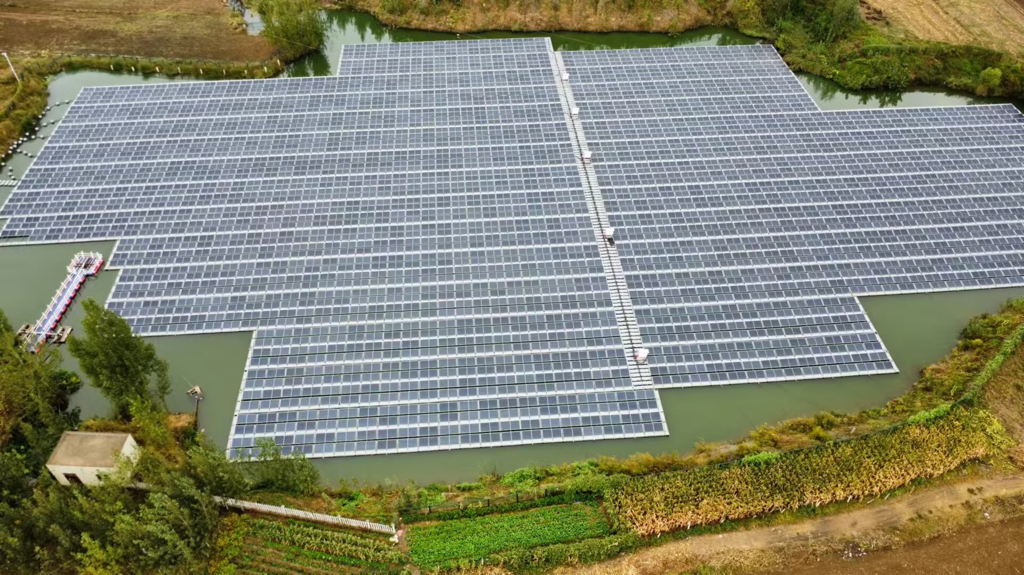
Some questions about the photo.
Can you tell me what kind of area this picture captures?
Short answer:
solar farm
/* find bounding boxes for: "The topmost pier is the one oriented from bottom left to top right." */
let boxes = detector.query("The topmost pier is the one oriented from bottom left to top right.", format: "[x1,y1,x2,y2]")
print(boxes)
[23,249,105,352]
